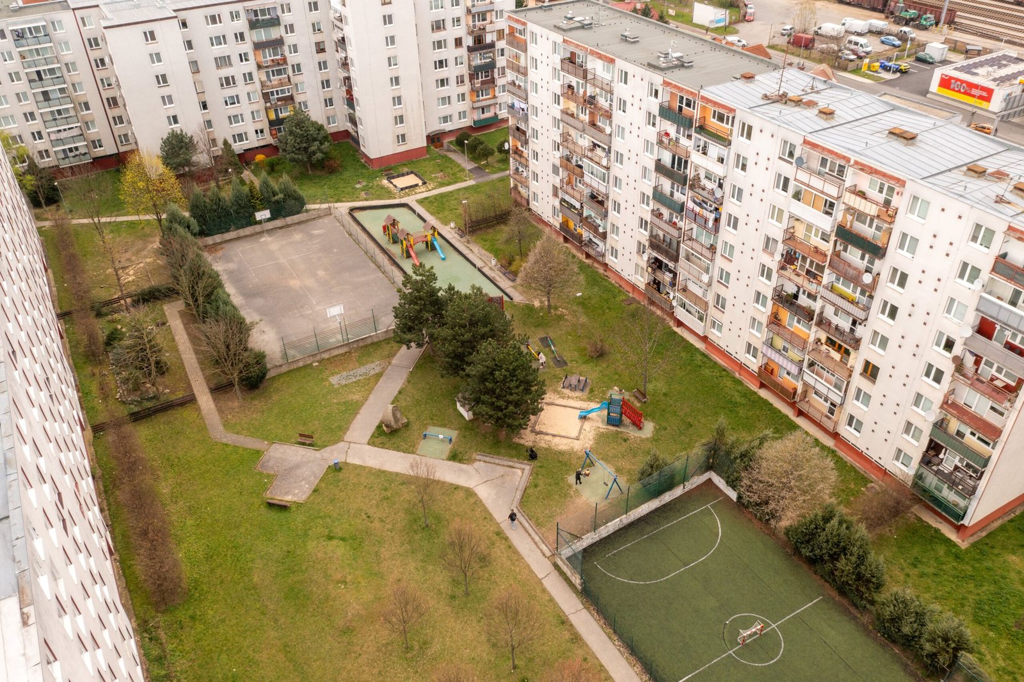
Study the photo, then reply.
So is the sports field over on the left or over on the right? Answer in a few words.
right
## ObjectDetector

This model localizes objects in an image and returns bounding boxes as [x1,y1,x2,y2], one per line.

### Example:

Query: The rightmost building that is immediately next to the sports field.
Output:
[505,0,1024,541]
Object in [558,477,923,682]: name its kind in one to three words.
sports field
